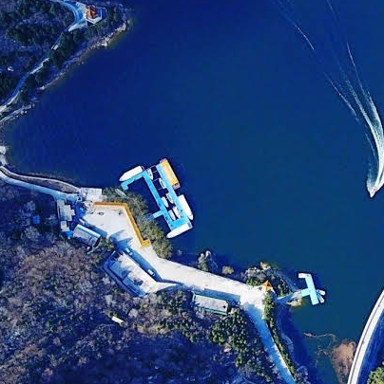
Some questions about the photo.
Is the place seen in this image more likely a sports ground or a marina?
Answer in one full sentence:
The picture captures a marina.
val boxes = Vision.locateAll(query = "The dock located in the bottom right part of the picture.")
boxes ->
[277,273,319,304]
